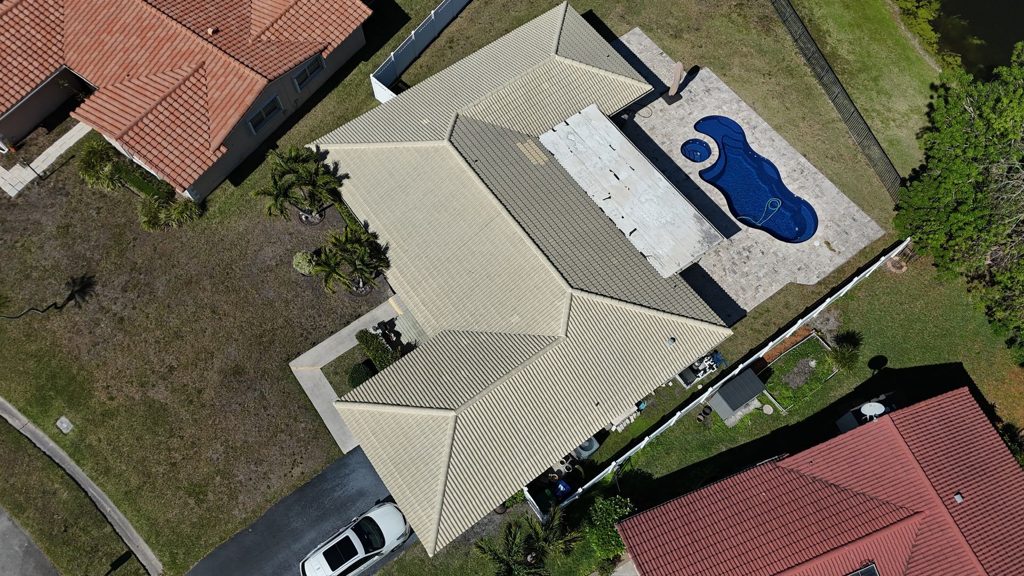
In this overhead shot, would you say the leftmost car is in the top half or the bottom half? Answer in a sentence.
The bottom half of the photo is where the leftmost car is.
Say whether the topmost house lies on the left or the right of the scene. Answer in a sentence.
The topmost house appears in the left half of the scene.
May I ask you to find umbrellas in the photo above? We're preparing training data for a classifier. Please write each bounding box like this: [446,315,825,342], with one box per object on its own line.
[661,62,684,107]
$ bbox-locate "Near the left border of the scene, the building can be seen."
[0,0,374,205]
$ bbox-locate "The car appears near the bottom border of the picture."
[302,502,413,576]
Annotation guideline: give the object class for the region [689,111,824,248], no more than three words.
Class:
swimming pool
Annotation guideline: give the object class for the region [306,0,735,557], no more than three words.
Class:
house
